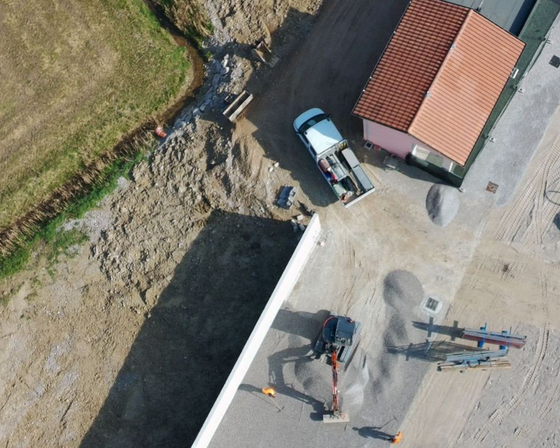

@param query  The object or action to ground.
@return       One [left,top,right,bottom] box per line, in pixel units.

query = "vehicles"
[296,106,375,206]
[312,312,364,420]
